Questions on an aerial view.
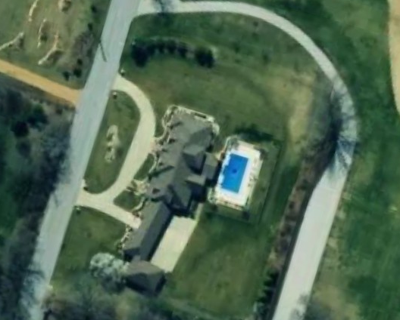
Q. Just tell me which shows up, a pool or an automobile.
pool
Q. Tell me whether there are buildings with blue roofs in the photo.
No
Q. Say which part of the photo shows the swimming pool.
center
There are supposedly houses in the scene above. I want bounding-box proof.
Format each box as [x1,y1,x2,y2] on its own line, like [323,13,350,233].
[124,109,222,294]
